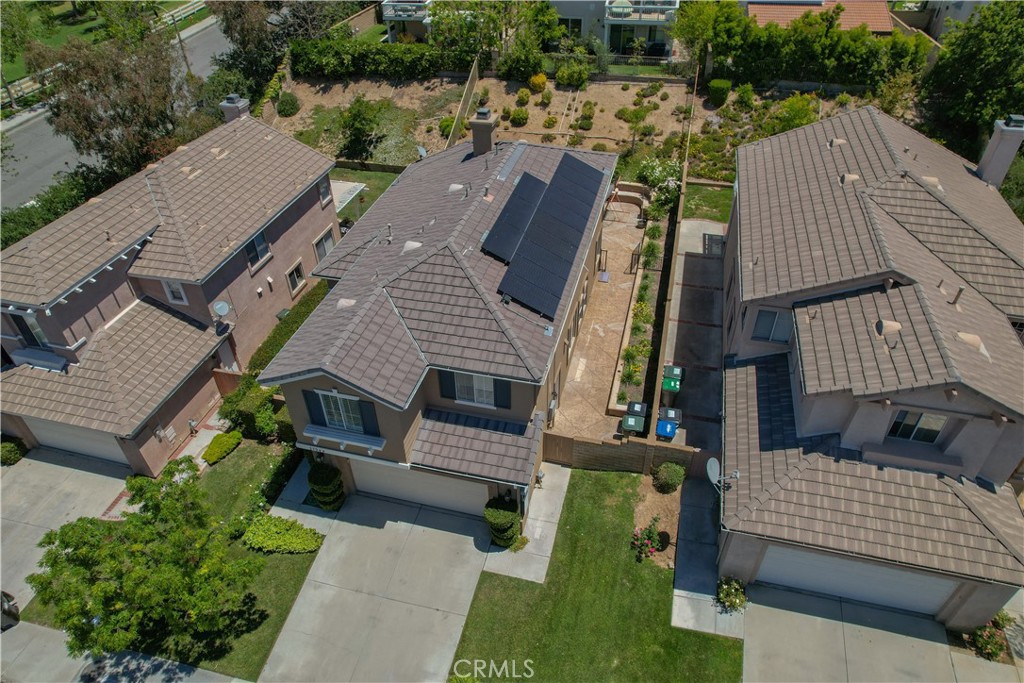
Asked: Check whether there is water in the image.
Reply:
No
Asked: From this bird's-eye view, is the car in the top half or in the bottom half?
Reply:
bottom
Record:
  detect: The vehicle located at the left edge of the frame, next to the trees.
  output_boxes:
[0,596,23,640]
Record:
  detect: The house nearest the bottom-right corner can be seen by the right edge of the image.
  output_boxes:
[715,105,1024,633]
